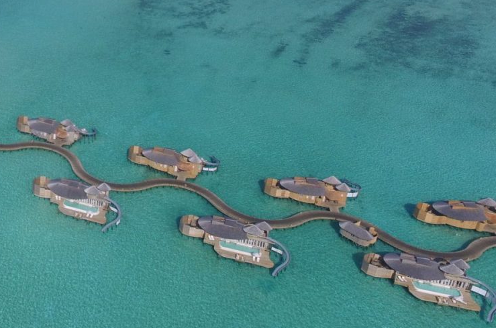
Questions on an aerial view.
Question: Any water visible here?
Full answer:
Yes, there's water in this view.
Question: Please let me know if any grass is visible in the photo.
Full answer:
No, grass can't be seen anywhere here.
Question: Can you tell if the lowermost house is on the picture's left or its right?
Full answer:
The lowermost house is on the right side of the image.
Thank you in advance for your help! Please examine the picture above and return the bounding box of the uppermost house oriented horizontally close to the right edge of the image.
[411,200,496,236]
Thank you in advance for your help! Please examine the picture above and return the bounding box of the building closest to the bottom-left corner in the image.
[33,177,125,229]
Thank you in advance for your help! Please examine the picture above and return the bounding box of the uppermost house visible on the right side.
[263,175,363,213]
